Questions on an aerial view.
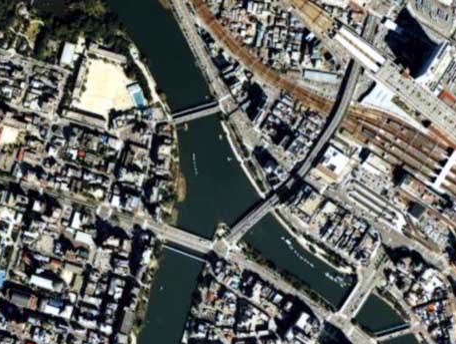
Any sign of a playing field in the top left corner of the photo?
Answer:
Yes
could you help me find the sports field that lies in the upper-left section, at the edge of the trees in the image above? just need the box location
[72,60,135,120]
